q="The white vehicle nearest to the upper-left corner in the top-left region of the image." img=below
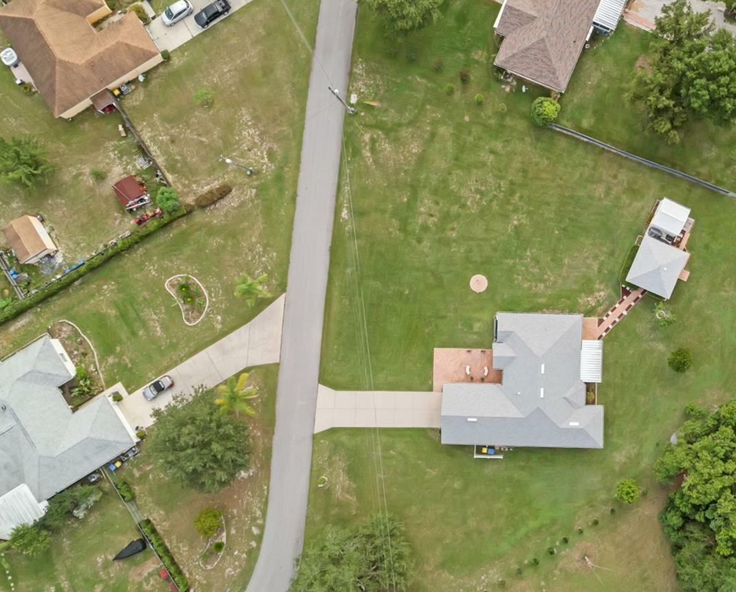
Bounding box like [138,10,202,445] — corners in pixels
[160,0,192,23]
